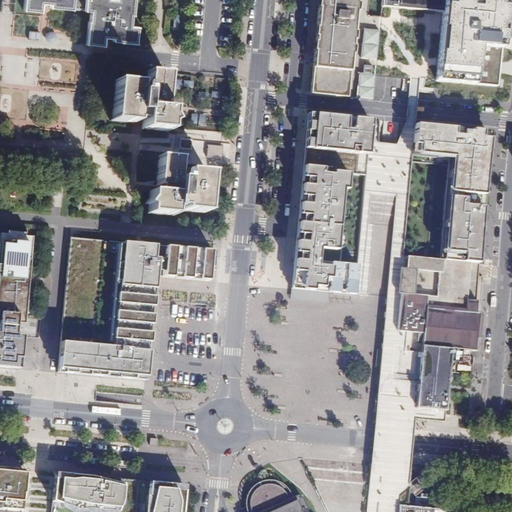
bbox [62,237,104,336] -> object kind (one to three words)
building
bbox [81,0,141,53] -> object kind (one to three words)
building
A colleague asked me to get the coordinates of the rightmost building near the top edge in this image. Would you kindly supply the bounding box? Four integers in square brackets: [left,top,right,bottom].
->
[428,0,512,92]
